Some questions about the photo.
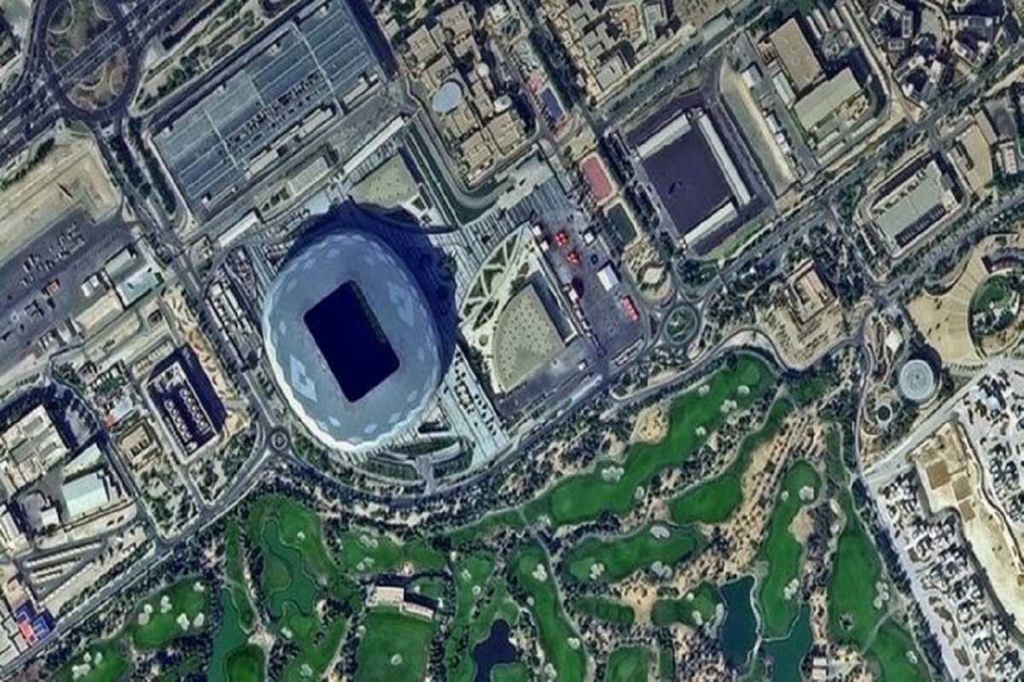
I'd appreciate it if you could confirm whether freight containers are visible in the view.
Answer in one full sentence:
No, this view has no freight container in it.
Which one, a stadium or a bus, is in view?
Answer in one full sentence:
There is a stadium in the scene.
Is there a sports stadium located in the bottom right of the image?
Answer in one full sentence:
No, looking in the bottom right of the image, there is no sports stadium.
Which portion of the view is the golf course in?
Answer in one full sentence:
The golf course is in the bottom part of the image.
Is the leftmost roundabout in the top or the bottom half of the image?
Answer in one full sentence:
You can find the leftmost roundabout in the top half.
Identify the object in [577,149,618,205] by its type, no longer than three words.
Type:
sports court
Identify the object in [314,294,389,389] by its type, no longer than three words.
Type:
sports field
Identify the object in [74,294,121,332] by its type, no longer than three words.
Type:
building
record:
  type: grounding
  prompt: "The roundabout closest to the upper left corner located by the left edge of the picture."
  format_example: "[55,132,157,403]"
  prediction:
[37,0,141,117]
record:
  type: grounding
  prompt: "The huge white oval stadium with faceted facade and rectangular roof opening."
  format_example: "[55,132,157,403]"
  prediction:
[261,228,443,458]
